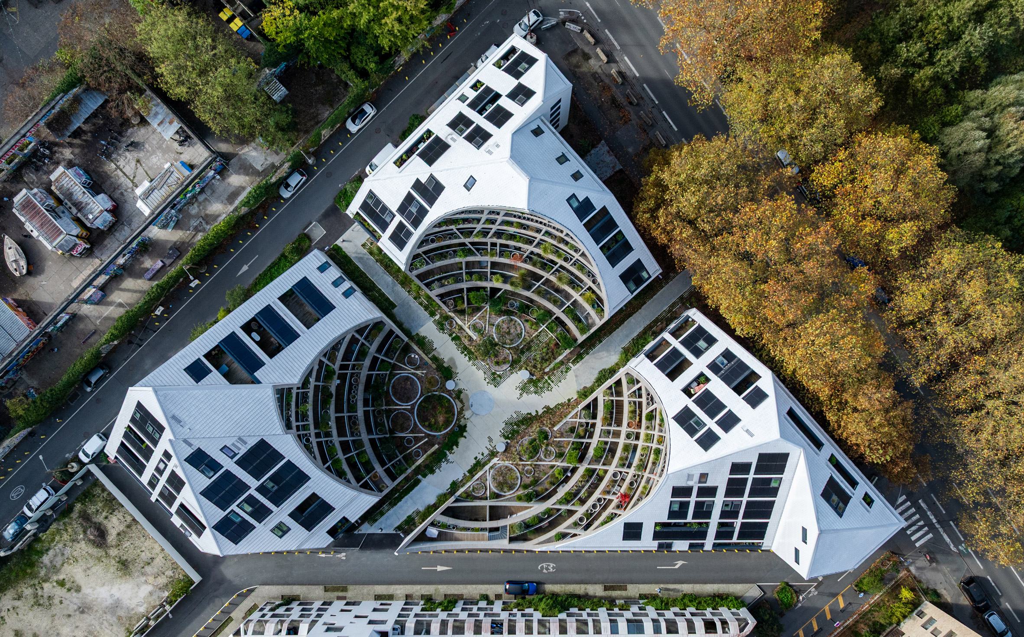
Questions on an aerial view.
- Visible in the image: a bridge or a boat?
boat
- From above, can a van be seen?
Yes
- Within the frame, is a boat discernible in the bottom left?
No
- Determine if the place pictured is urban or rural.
urban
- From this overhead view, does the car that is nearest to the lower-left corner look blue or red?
blue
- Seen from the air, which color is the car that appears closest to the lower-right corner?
blue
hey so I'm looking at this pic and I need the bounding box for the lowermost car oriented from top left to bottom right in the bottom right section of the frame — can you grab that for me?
[982,609,1013,637]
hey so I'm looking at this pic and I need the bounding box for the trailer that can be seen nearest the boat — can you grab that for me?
[13,188,98,258]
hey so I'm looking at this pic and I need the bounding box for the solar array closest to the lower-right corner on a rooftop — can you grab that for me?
[821,474,852,518]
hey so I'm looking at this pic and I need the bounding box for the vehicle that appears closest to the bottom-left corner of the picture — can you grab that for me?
[1,509,32,541]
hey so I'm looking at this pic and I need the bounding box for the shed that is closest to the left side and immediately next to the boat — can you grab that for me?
[0,278,39,358]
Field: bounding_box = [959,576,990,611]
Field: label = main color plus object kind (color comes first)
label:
black car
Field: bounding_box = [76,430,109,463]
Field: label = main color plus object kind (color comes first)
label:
white van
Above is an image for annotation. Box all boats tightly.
[1,233,28,277]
